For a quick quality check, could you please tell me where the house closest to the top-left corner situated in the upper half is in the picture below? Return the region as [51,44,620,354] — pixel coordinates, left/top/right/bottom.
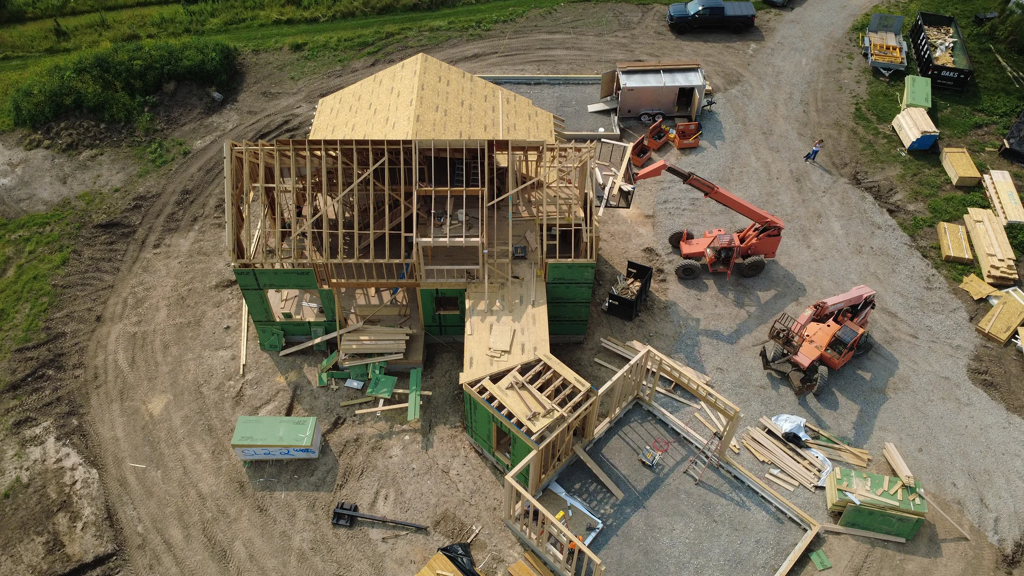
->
[223,53,597,396]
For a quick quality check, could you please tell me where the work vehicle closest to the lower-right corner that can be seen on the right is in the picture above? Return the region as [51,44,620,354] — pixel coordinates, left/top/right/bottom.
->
[756,282,891,404]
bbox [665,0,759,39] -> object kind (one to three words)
truck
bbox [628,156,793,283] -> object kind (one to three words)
work vehicle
